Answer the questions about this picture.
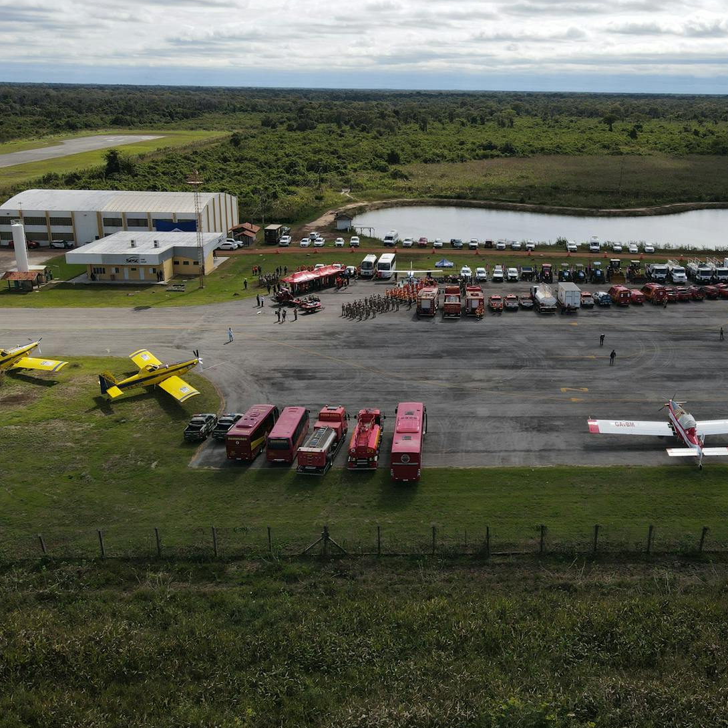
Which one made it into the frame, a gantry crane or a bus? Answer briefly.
bus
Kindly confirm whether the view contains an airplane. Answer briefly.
Yes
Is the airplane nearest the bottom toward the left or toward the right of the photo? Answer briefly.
right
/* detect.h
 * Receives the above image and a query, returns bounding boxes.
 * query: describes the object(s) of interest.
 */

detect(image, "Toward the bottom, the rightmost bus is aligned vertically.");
[391,405,427,480]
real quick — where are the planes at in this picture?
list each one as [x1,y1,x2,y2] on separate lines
[584,392,728,468]
[381,263,447,285]
[94,348,210,404]
[0,330,89,375]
